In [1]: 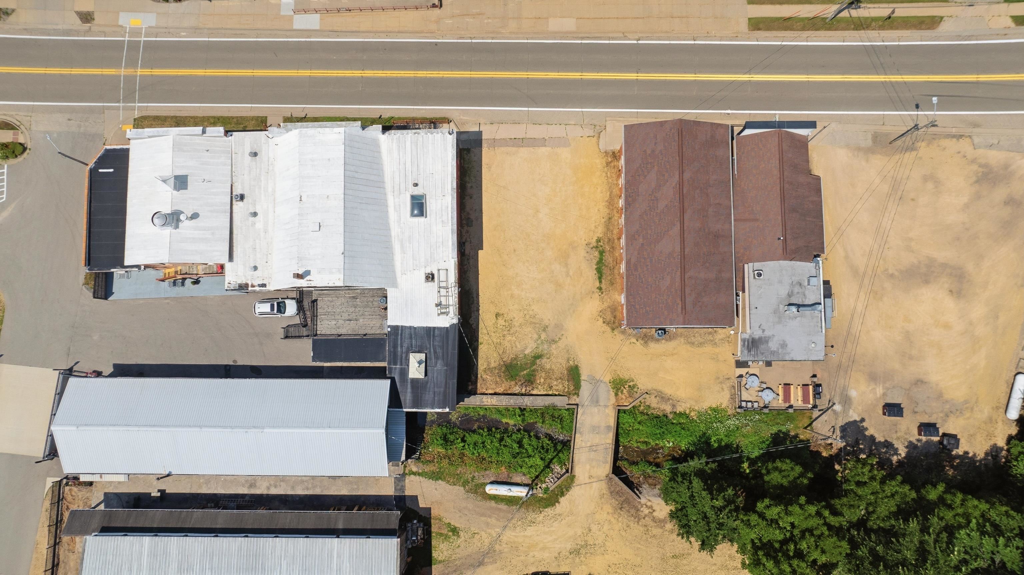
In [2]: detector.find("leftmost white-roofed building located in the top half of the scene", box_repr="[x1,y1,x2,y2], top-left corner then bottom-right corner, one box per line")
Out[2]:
[81,127,233,275]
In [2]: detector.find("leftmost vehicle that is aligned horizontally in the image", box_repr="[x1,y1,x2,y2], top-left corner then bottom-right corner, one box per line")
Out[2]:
[254,296,300,317]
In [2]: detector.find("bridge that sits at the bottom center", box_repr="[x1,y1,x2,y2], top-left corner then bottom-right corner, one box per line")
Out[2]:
[568,406,619,477]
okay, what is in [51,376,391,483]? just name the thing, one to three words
building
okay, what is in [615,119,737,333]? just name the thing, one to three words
building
